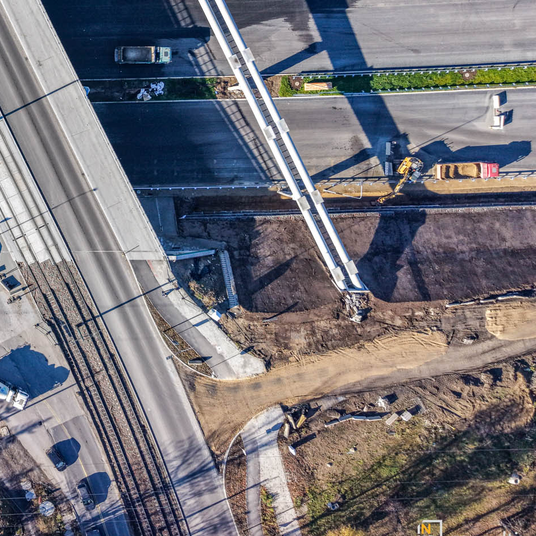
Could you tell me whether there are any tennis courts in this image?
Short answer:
No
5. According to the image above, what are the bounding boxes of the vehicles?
[372,141,421,206]
[75,478,96,512]
[0,381,33,418]
[44,443,67,473]
[429,159,501,181]
[114,44,172,66]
